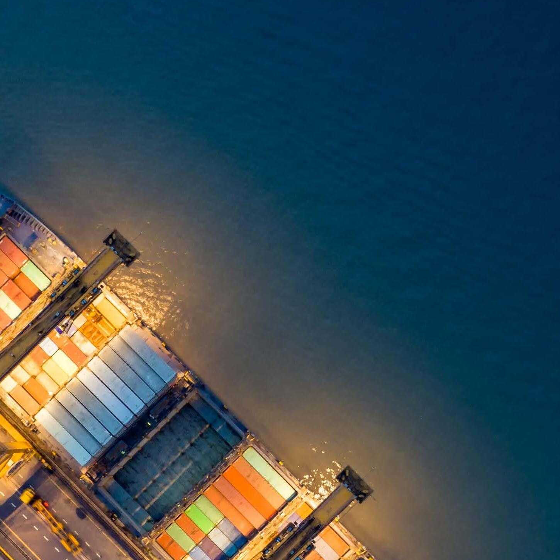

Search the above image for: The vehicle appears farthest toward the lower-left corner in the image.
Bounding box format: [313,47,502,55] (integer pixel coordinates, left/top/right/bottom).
[19,487,86,555]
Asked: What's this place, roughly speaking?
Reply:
port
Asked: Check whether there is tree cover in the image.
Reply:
No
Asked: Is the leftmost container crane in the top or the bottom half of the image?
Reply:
bottom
